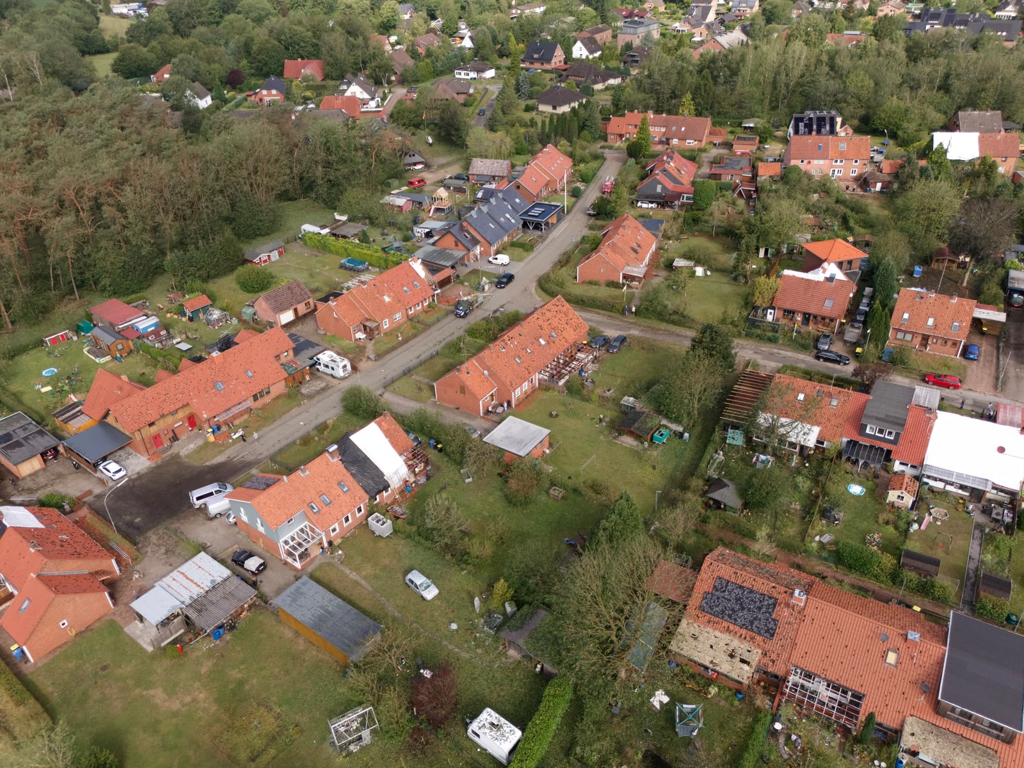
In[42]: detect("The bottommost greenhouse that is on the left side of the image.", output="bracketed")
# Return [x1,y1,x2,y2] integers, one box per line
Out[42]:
[325,708,381,765]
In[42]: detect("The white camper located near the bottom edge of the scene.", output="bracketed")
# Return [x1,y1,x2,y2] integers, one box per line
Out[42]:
[463,697,525,768]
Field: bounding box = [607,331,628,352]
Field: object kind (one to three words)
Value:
car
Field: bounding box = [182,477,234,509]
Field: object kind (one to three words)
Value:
van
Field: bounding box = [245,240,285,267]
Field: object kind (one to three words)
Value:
shed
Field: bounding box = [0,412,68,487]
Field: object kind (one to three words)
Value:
building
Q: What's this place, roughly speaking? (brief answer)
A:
residential area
